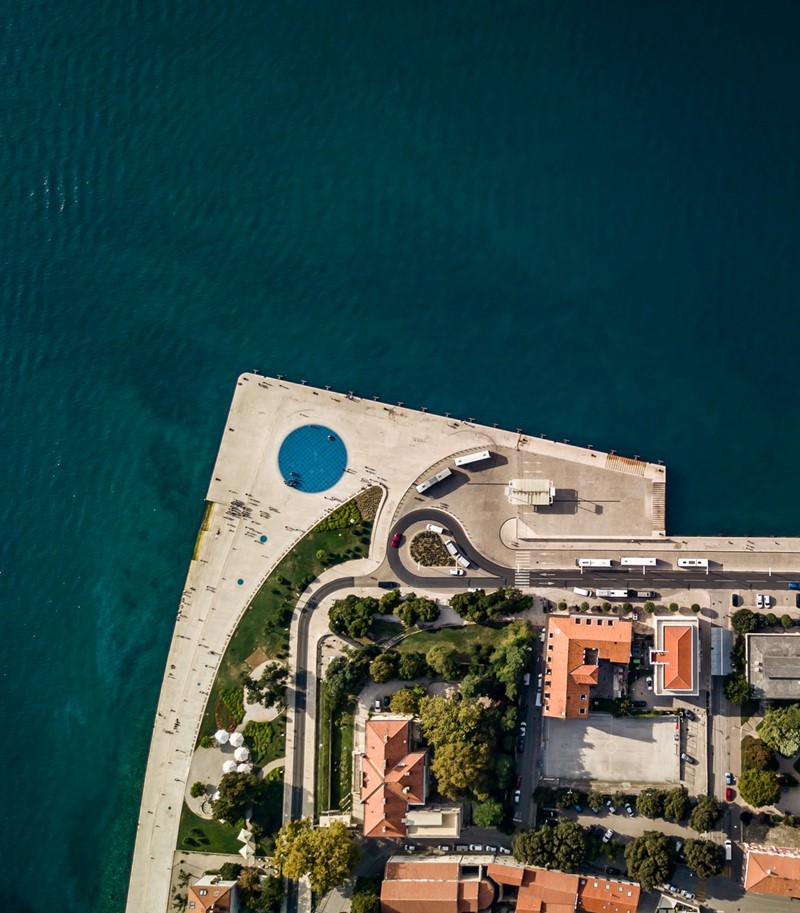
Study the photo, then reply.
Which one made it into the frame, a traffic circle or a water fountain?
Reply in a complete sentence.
It is a traffic circle that can be seen here.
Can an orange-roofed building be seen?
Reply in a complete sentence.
Yes, the image includes an orange-roofed building.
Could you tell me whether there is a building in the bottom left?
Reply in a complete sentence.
Yes, the scene does show a building in the bottom left.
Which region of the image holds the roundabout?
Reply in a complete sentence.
The roundabout is in the center part of the image.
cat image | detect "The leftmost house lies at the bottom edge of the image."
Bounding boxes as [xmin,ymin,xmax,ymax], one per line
[188,879,243,913]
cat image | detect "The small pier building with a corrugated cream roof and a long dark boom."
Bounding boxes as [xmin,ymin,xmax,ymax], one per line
[466,480,562,504]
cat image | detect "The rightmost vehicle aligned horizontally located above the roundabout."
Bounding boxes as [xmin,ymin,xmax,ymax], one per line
[455,450,492,466]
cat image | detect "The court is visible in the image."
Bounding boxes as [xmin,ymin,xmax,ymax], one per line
[542,718,681,784]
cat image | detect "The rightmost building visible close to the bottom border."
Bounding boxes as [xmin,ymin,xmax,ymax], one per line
[738,843,800,901]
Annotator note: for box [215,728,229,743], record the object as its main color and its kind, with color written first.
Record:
white umbrella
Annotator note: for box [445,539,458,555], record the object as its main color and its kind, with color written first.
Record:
white vehicle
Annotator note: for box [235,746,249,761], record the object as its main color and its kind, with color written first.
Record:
white umbrella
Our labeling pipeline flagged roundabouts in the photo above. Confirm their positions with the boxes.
[387,506,514,588]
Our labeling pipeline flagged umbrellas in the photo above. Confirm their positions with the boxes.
[237,761,252,775]
[215,728,229,743]
[235,746,249,761]
[223,759,237,773]
[238,843,255,860]
[229,732,243,746]
[236,827,253,843]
